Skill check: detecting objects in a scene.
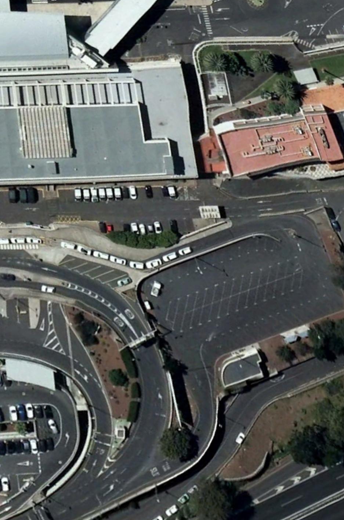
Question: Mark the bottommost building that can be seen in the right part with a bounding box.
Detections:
[220,343,263,387]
